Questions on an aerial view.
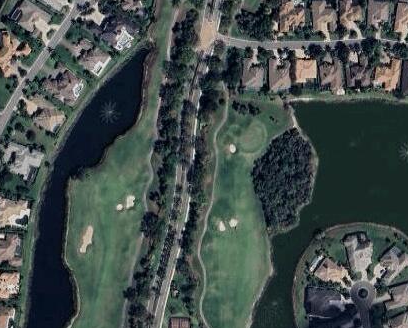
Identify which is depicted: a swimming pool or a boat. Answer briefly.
swimming pool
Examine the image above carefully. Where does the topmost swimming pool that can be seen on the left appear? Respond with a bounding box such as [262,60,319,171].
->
[111,22,134,55]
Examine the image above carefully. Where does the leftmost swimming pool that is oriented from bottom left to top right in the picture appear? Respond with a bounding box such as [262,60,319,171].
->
[66,78,90,107]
